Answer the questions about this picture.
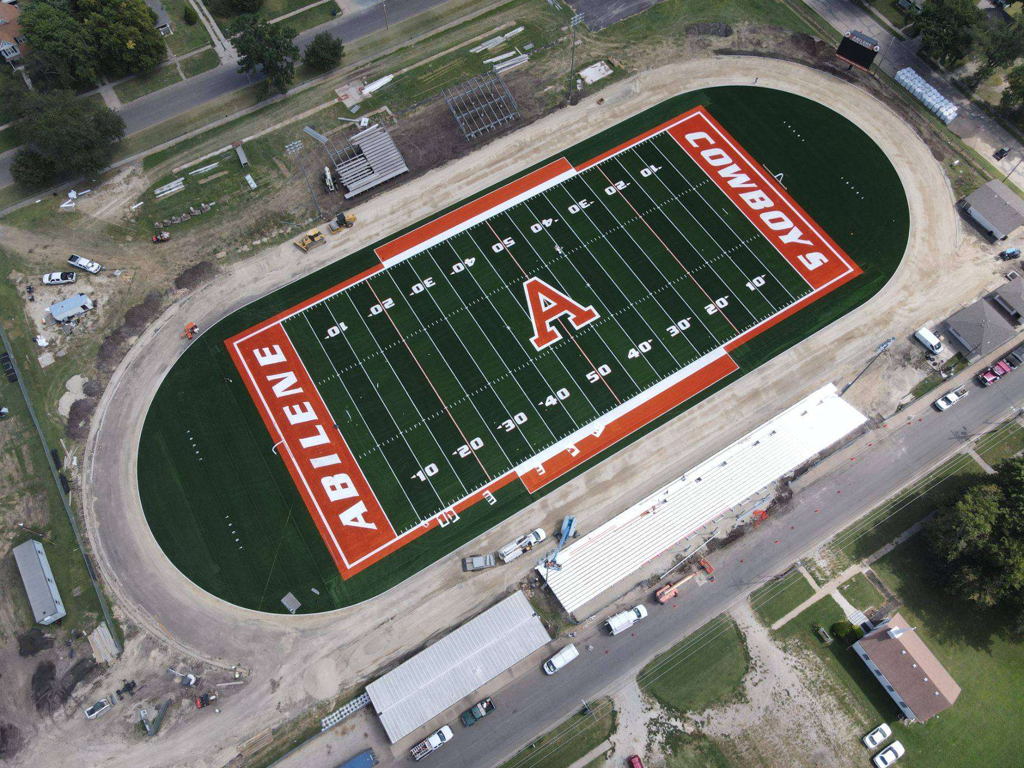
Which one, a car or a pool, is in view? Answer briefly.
car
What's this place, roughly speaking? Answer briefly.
sports ground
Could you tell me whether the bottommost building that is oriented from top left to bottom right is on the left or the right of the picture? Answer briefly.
right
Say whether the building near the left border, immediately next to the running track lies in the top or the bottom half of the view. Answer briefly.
bottom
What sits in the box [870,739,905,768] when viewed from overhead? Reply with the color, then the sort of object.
white car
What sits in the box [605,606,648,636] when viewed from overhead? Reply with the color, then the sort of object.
white truck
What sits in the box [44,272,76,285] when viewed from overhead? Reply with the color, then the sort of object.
white vehicle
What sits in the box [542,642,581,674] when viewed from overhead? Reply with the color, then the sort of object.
white van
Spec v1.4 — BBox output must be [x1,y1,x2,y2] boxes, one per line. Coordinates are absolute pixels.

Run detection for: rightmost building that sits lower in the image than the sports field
[846,611,962,722]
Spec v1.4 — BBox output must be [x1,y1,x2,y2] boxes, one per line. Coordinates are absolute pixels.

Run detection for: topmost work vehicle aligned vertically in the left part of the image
[321,164,335,197]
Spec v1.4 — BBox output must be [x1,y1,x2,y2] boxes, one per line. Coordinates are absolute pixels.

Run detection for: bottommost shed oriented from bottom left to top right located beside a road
[366,590,551,742]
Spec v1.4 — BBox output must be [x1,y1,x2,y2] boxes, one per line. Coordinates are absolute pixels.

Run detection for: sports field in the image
[138,86,909,615]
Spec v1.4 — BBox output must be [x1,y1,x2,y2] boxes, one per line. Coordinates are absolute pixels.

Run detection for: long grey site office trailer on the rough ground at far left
[14,537,65,630]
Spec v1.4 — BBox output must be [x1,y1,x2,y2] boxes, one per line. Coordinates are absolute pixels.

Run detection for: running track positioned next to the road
[80,49,961,682]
